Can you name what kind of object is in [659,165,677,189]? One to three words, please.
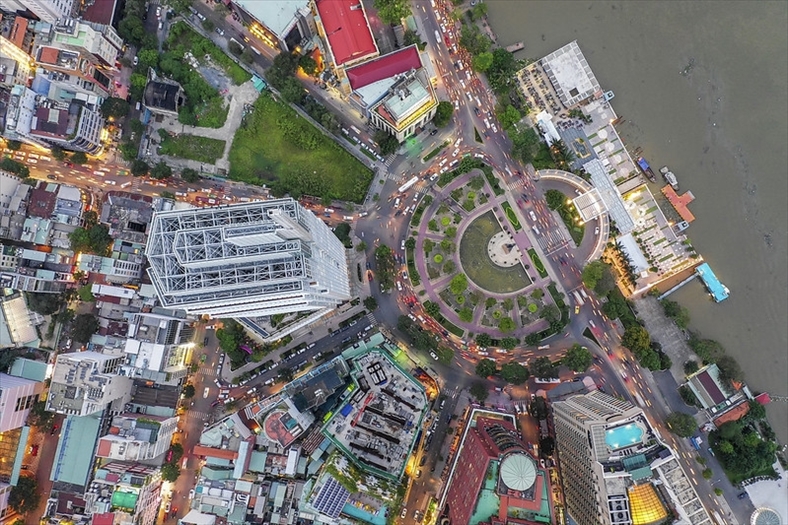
boat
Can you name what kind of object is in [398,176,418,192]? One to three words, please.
vehicle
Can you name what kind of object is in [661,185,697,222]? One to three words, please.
pier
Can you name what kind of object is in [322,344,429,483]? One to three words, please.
building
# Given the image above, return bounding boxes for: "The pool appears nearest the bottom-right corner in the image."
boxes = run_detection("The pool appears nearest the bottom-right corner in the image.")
[603,420,646,451]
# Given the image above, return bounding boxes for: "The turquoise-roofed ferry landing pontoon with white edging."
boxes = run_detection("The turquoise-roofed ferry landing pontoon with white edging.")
[693,262,730,303]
